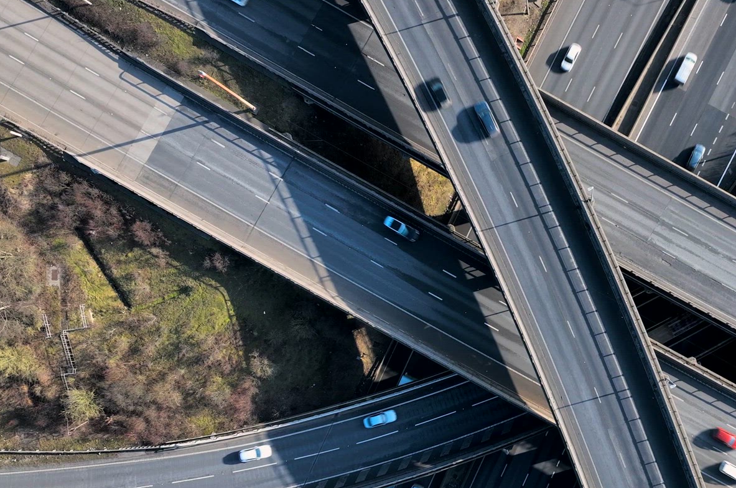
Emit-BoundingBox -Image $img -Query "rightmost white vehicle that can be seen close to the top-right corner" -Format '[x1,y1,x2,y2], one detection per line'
[673,51,698,86]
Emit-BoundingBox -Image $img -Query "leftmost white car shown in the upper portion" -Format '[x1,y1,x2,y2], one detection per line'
[560,41,582,74]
